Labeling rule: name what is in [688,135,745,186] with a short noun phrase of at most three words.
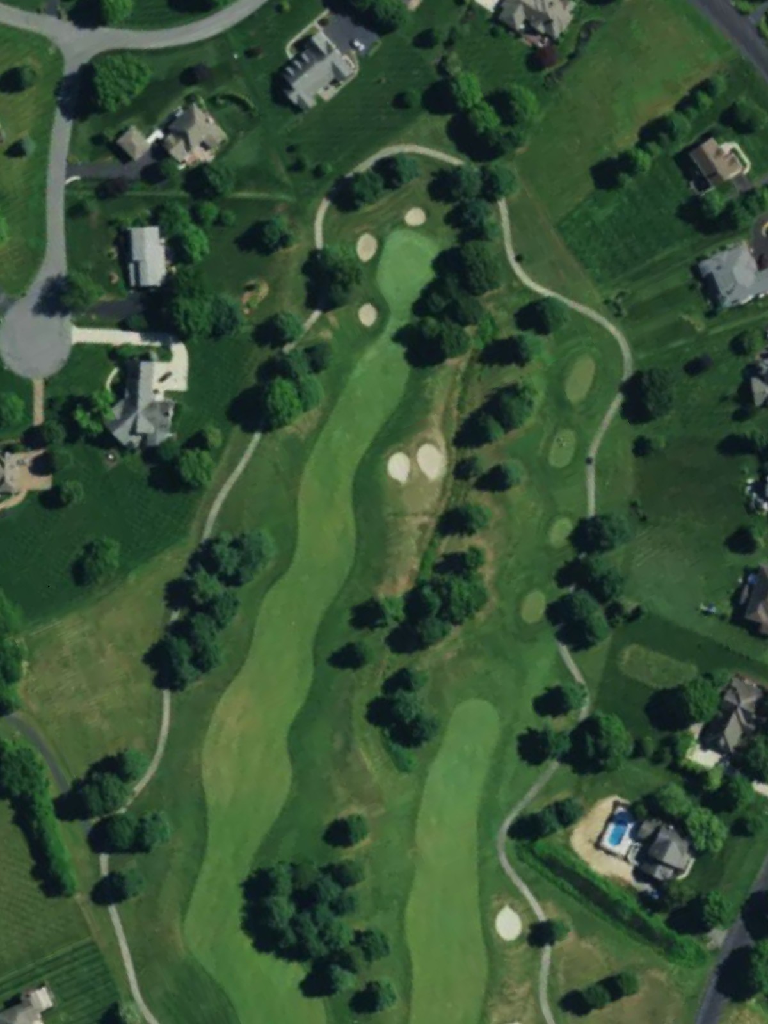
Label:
house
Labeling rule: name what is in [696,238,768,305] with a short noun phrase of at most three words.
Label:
house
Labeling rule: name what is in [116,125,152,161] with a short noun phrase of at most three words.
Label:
building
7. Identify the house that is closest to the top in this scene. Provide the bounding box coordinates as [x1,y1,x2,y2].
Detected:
[492,0,585,42]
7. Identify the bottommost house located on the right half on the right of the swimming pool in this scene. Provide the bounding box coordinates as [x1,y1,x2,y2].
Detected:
[634,819,694,884]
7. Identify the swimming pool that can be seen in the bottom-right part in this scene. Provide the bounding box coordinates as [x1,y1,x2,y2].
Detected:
[599,805,635,857]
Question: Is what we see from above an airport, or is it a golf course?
golf course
